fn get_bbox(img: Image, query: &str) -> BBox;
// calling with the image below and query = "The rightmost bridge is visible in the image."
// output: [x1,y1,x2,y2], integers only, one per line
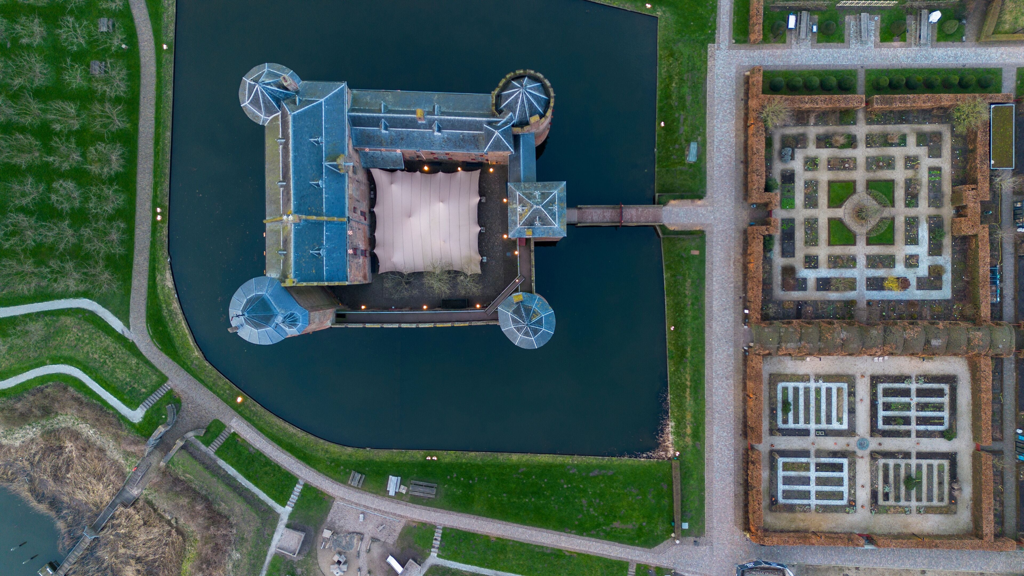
[566,204,663,227]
